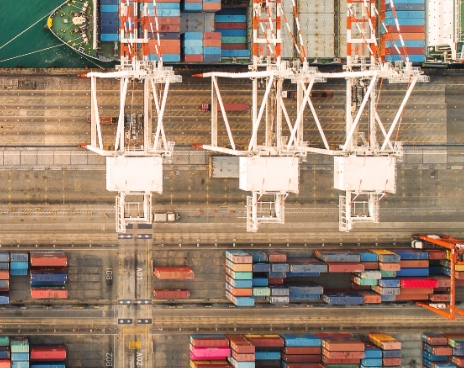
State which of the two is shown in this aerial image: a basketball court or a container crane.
container crane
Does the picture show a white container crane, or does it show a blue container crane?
white container crane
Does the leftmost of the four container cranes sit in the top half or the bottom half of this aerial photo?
top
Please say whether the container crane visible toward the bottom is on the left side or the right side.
right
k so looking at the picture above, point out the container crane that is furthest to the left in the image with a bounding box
[73,0,187,235]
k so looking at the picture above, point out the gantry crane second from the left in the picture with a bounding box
[189,0,329,235]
